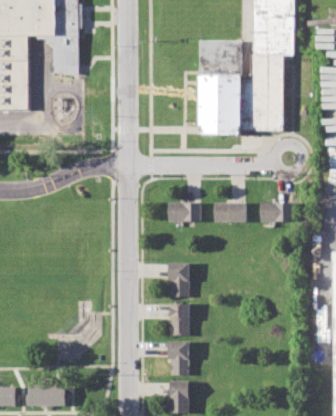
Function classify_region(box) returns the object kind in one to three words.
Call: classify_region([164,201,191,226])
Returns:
house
